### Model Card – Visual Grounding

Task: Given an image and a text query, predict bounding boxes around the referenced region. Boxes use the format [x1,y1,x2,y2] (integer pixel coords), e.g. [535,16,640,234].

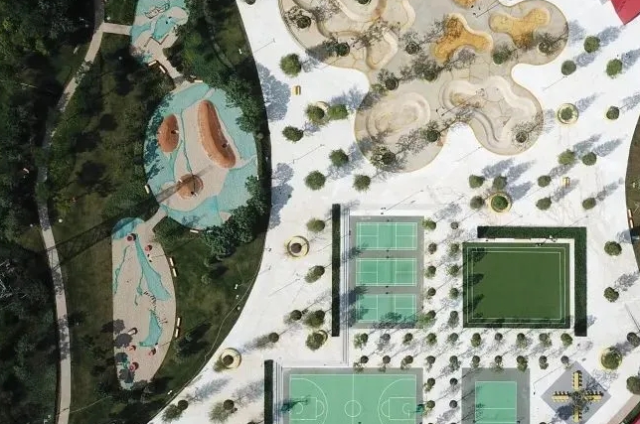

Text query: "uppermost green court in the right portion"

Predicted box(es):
[356,219,417,252]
